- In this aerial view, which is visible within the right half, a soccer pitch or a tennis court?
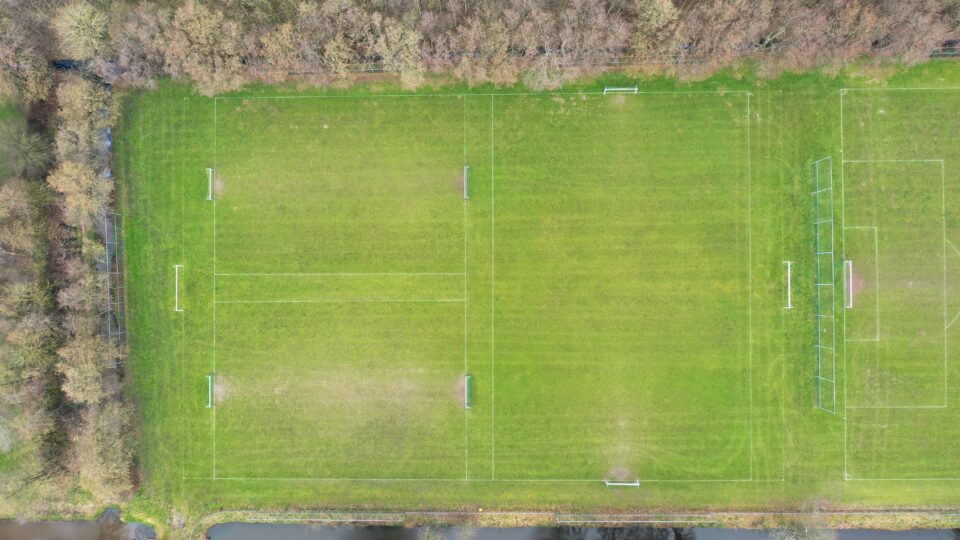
soccer pitch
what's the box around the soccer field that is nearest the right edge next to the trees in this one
[840,87,960,481]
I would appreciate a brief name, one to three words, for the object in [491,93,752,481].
soccer field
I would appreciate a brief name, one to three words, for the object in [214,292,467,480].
soccer field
